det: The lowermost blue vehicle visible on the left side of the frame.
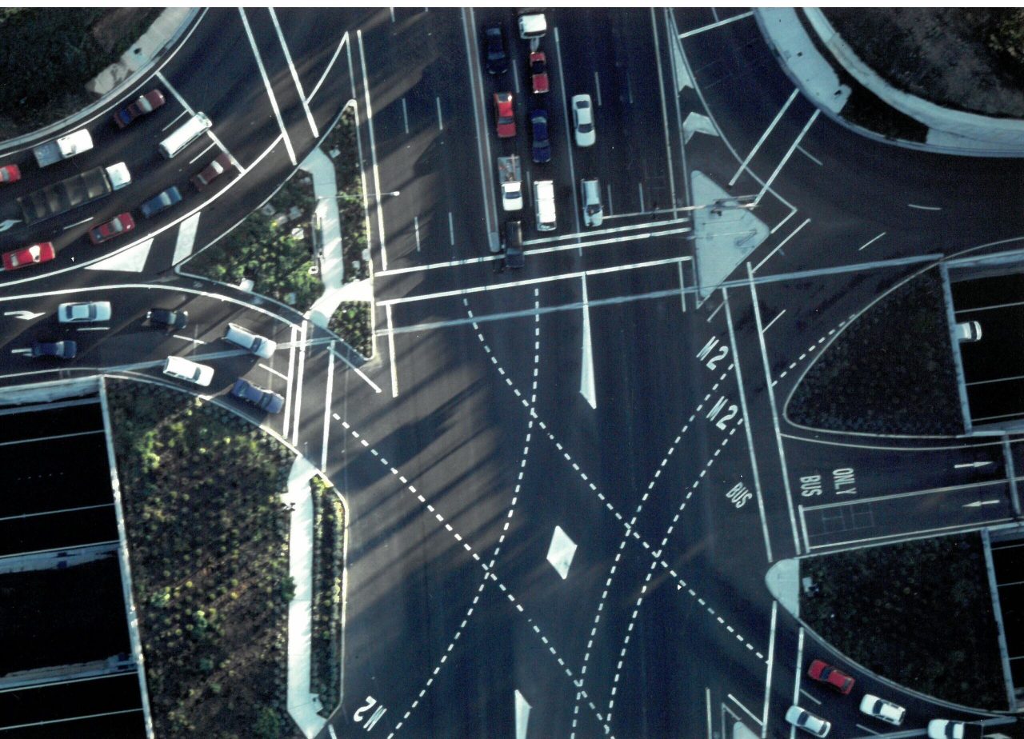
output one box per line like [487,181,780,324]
[231,379,284,414]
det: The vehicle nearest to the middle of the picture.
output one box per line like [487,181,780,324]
[503,221,525,268]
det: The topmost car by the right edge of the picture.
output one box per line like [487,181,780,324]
[961,319,982,340]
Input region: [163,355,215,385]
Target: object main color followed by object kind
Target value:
white car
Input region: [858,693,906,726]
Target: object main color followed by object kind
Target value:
white car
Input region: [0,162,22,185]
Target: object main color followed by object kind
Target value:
red car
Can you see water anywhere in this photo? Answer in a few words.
No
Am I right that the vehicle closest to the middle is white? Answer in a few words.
No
